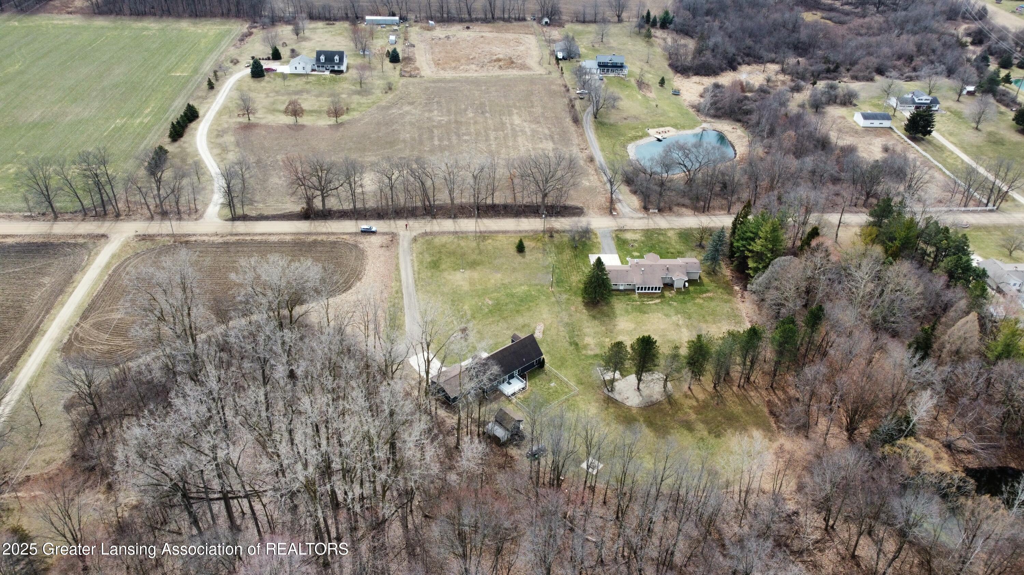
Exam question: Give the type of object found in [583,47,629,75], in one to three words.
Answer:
house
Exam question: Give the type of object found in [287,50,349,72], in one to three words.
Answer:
house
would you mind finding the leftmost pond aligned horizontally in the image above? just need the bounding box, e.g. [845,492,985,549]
[635,130,735,176]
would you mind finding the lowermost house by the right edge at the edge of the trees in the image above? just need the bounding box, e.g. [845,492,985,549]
[975,256,1024,300]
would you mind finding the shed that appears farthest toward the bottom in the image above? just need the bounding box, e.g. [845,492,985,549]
[486,408,523,441]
